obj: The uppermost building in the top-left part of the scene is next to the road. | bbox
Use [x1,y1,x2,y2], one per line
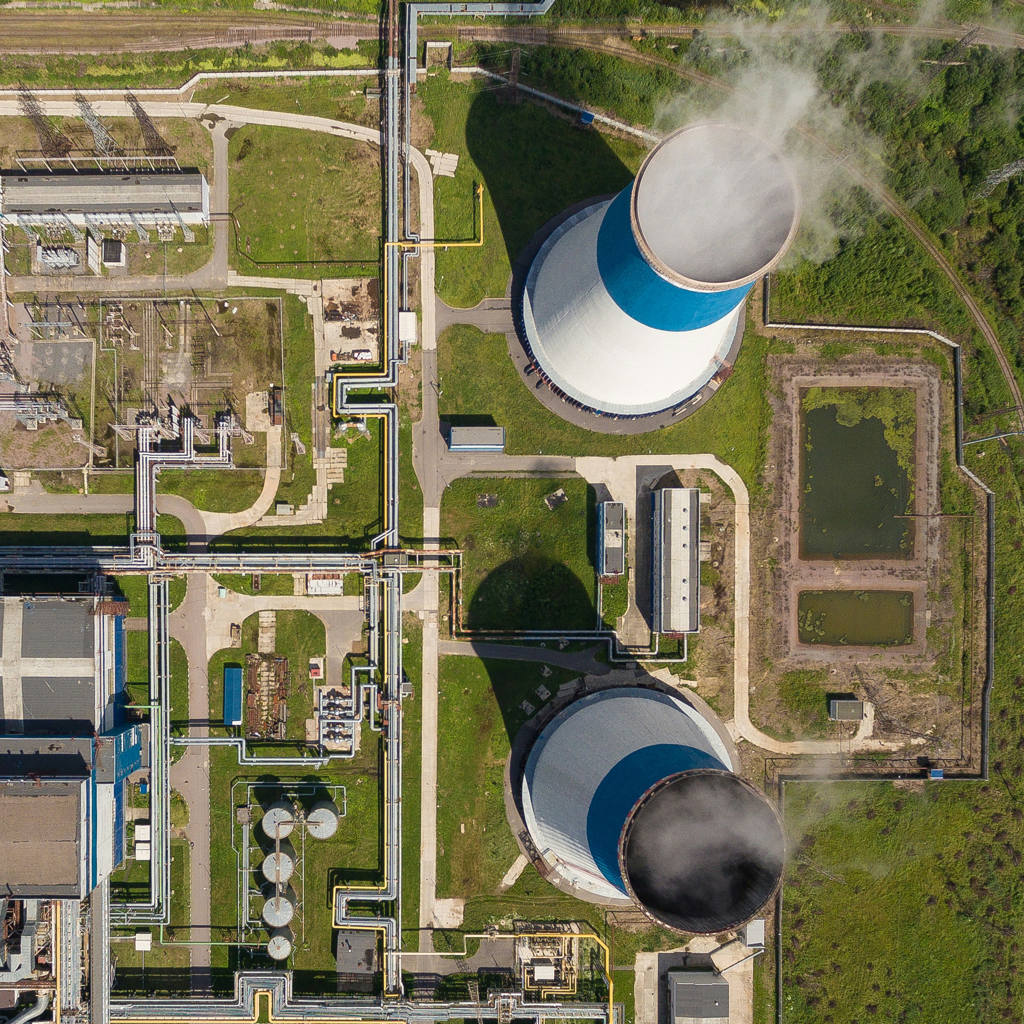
[0,174,208,225]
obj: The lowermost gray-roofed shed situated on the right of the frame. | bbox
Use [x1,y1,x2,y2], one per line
[666,972,729,1024]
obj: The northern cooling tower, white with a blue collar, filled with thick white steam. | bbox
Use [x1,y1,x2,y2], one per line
[507,122,801,435]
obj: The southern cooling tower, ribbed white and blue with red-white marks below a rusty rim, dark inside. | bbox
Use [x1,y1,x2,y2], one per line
[504,672,787,935]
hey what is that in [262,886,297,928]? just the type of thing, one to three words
storage tank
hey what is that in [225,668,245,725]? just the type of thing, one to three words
shed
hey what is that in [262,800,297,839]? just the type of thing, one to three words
storage tank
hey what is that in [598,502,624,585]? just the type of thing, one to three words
building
